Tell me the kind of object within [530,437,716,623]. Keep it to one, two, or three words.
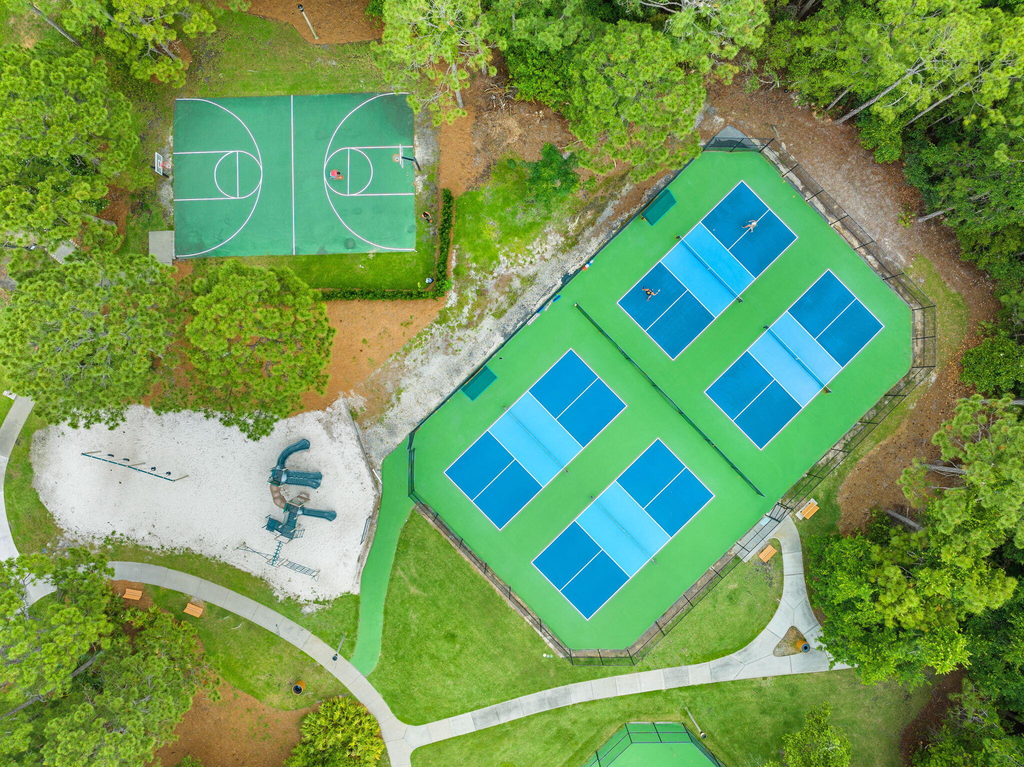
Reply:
sports court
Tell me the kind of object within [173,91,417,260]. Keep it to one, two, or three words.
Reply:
basketball court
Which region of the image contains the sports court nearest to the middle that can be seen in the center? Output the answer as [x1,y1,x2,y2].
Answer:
[442,347,629,532]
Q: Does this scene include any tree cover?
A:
Yes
